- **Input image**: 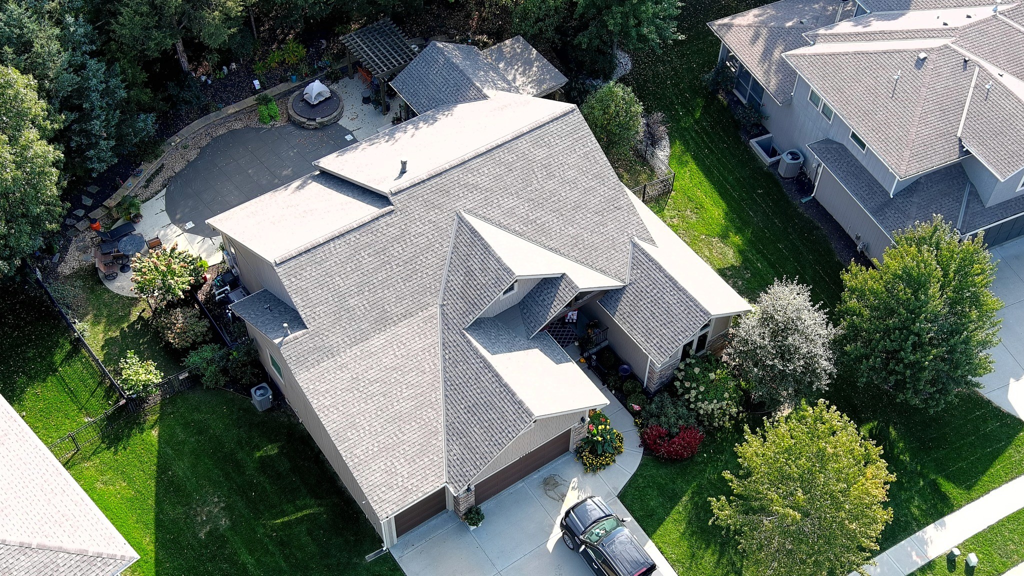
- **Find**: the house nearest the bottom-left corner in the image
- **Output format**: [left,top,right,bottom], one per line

[0,390,143,576]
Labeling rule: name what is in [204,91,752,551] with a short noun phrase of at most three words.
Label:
house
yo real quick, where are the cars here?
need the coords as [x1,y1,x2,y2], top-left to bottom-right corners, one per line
[563,493,665,576]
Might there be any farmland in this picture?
No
